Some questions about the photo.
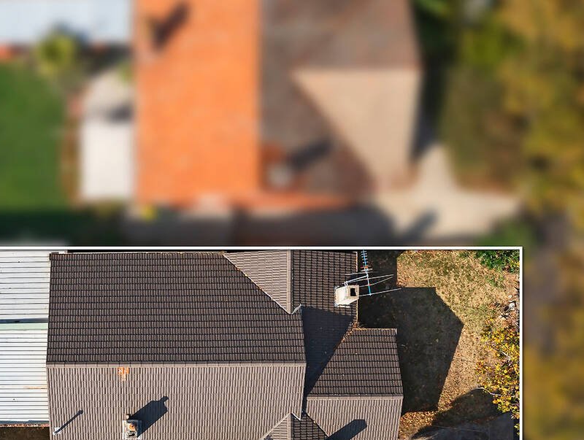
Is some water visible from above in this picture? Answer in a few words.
No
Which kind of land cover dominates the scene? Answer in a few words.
buildings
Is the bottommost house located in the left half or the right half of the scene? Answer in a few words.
left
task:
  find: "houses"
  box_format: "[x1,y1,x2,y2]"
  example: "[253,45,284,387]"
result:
[132,0,425,207]
[0,242,404,440]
